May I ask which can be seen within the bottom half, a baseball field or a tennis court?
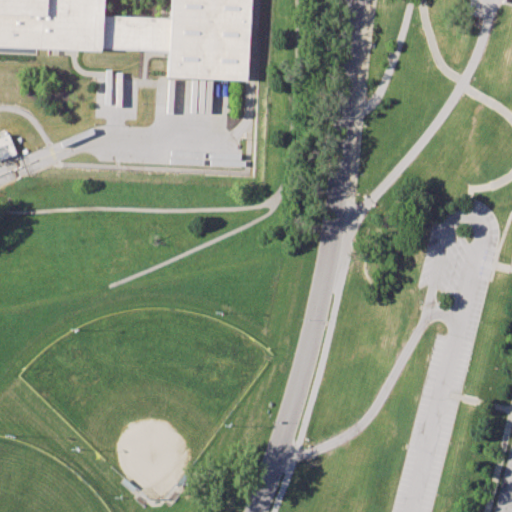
baseball field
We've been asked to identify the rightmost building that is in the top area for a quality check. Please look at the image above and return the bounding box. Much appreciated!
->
[166,0,254,81]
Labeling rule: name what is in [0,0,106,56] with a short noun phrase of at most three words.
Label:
building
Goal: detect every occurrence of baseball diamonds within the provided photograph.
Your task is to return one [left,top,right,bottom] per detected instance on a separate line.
[20,308,270,500]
